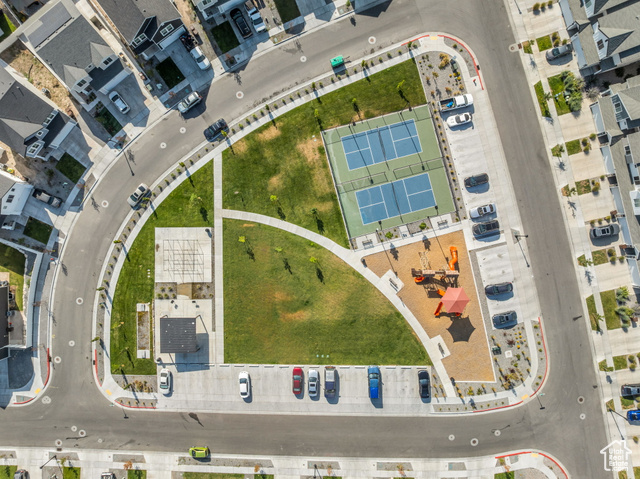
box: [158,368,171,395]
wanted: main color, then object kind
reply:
white vehicle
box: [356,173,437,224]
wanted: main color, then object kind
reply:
blue sports court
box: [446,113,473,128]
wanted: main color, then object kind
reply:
white car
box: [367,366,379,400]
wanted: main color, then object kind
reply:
blue vehicle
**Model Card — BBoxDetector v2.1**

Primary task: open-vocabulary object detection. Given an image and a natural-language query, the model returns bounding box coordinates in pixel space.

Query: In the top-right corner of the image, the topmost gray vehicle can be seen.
[545,43,574,60]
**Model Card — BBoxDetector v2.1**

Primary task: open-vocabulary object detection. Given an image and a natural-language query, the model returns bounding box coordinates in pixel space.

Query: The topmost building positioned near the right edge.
[561,0,640,79]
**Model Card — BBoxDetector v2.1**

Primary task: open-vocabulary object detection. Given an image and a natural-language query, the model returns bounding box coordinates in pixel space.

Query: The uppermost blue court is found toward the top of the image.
[341,119,422,171]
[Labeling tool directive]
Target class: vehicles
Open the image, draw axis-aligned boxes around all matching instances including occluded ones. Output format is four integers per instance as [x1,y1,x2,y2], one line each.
[545,43,574,60]
[101,472,114,479]
[469,204,497,218]
[491,311,518,326]
[472,221,501,234]
[324,366,336,400]
[307,369,319,396]
[589,224,619,238]
[127,183,150,208]
[438,94,473,113]
[202,120,229,139]
[242,2,269,37]
[626,410,640,421]
[29,186,64,208]
[463,173,490,188]
[158,368,171,395]
[238,371,250,398]
[178,91,204,112]
[484,282,513,295]
[621,384,640,396]
[190,446,211,459]
[14,469,28,479]
[418,370,430,398]
[367,366,379,400]
[446,113,473,128]
[230,8,253,39]
[291,368,303,395]
[184,40,214,73]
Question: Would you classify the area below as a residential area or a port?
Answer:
residential area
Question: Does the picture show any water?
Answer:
No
